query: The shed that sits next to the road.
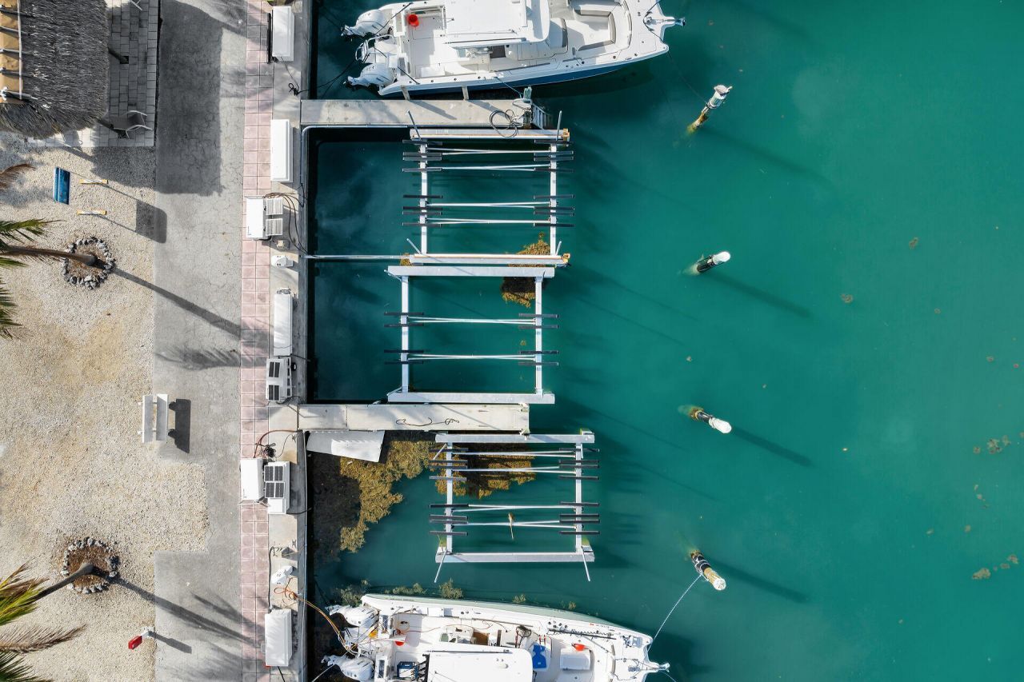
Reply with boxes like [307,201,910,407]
[0,0,130,149]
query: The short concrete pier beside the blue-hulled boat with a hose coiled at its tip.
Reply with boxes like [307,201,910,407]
[300,99,527,137]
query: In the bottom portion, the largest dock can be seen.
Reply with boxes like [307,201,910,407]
[298,402,528,432]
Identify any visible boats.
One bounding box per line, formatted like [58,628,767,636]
[317,587,675,682]
[334,0,691,99]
